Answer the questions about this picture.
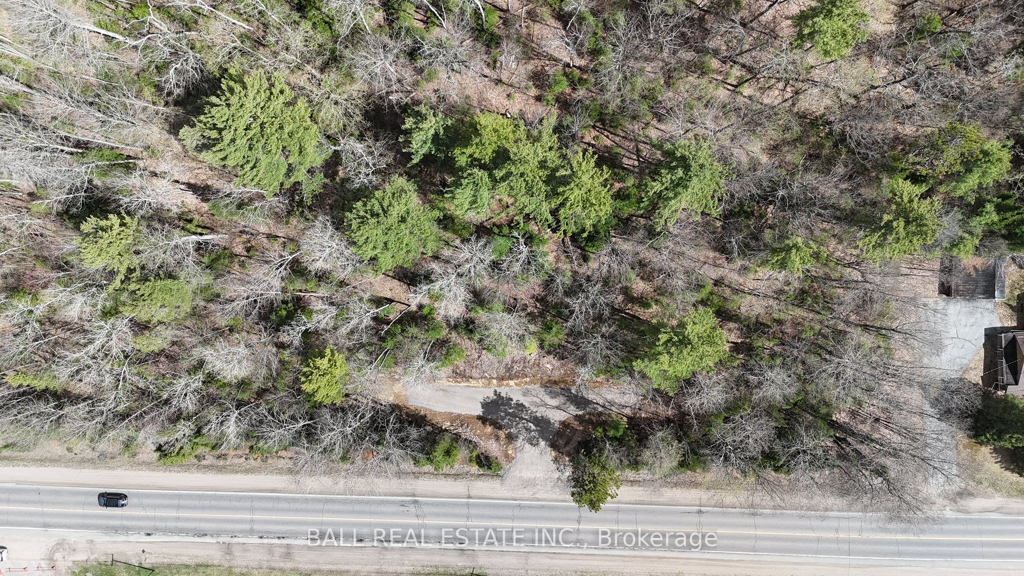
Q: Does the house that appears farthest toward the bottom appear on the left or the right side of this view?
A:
right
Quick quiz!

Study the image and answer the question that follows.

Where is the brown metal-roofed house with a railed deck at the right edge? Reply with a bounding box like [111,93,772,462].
[985,331,1024,396]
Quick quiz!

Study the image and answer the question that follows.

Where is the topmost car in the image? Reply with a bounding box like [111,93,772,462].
[97,493,125,508]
